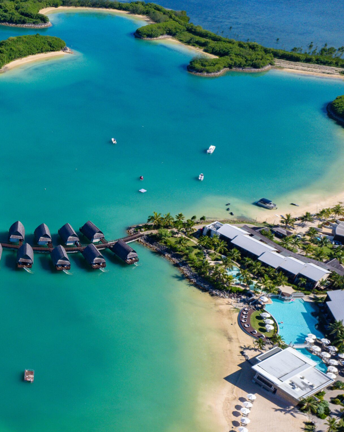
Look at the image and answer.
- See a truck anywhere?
No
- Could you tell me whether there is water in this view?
Yes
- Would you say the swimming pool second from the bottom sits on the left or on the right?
right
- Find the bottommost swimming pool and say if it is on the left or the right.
right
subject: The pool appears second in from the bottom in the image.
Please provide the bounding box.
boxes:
[262,297,326,345]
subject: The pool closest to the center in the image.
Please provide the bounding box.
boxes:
[225,265,268,294]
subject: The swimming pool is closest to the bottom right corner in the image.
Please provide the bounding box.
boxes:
[294,348,329,374]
